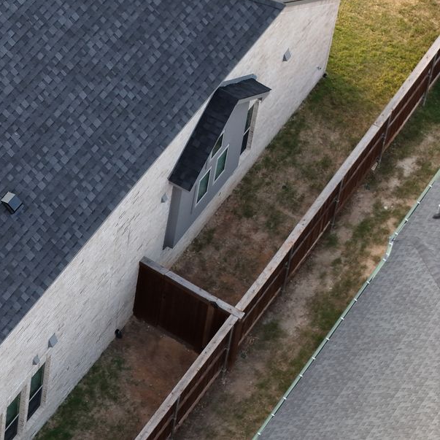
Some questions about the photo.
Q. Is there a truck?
No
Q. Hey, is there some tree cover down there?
No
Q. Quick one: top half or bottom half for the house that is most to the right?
bottom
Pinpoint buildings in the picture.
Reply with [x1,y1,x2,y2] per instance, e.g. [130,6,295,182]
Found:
[0,0,340,440]
[250,168,440,440]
